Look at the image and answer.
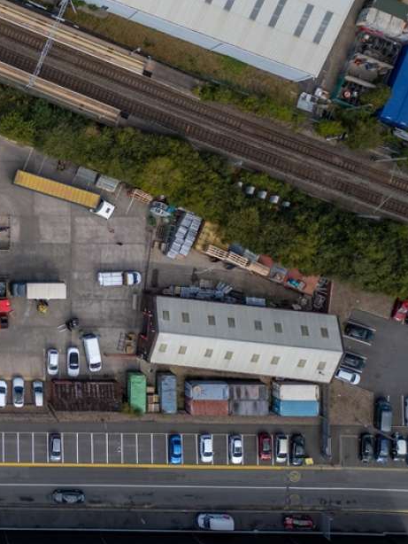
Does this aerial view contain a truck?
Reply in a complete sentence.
Yes, the image includes a truck.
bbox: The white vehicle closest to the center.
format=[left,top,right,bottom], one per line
[102,271,135,285]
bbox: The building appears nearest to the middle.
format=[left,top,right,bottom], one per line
[140,292,346,383]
